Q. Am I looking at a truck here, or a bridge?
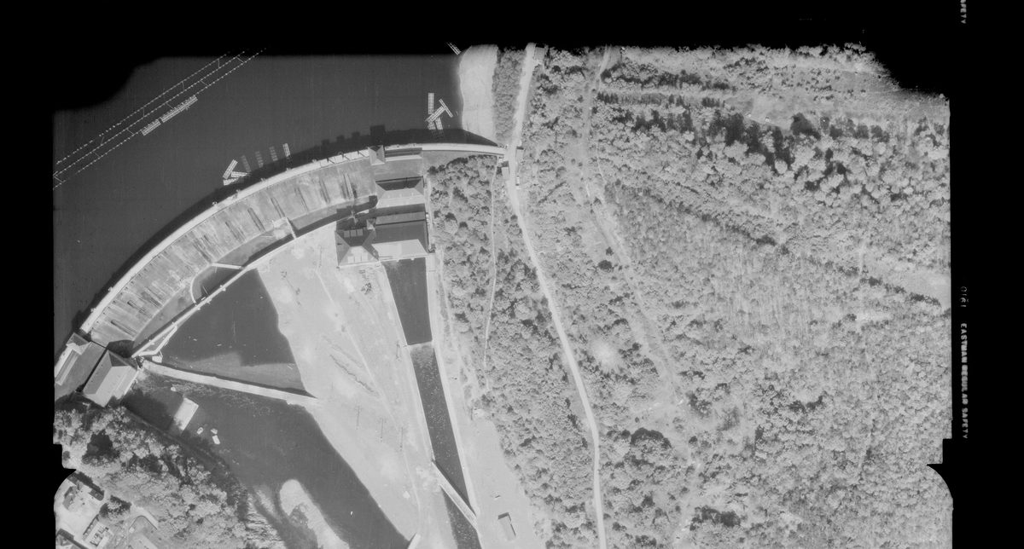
bridge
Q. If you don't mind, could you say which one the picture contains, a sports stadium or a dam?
dam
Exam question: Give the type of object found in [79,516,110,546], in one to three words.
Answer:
house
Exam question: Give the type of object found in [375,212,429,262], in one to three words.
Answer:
building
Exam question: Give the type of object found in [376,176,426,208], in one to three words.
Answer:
building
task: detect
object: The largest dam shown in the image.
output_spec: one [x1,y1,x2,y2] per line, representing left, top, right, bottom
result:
[14,140,510,427]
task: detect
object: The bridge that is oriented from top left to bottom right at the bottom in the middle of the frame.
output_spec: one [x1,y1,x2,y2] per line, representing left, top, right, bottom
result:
[429,464,477,526]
